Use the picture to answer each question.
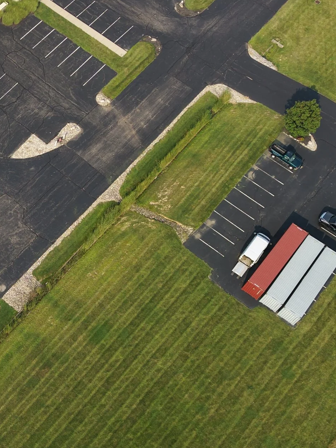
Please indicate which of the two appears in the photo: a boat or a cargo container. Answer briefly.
cargo container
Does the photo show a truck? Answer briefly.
Yes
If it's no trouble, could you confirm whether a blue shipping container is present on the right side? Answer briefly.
No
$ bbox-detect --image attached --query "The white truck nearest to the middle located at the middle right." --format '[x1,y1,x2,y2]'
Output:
[234,233,271,281]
